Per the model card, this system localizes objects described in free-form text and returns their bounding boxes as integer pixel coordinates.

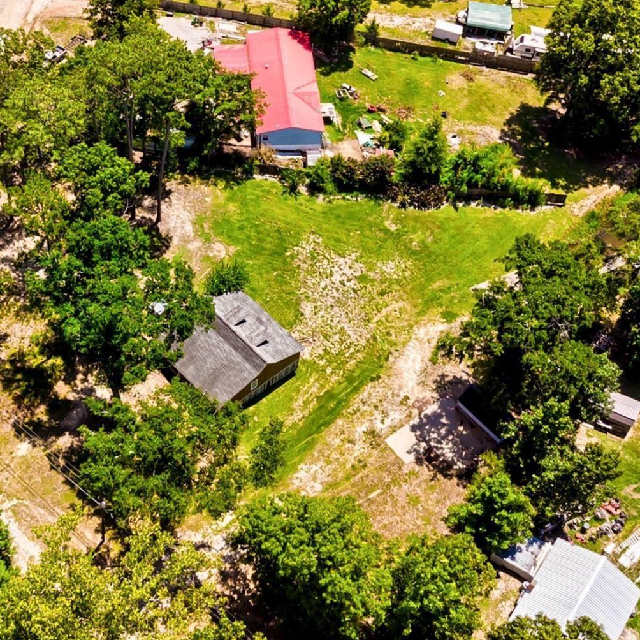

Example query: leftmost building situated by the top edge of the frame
[214,26,334,151]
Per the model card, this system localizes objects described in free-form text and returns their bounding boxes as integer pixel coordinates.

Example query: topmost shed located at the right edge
[611,395,640,431]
